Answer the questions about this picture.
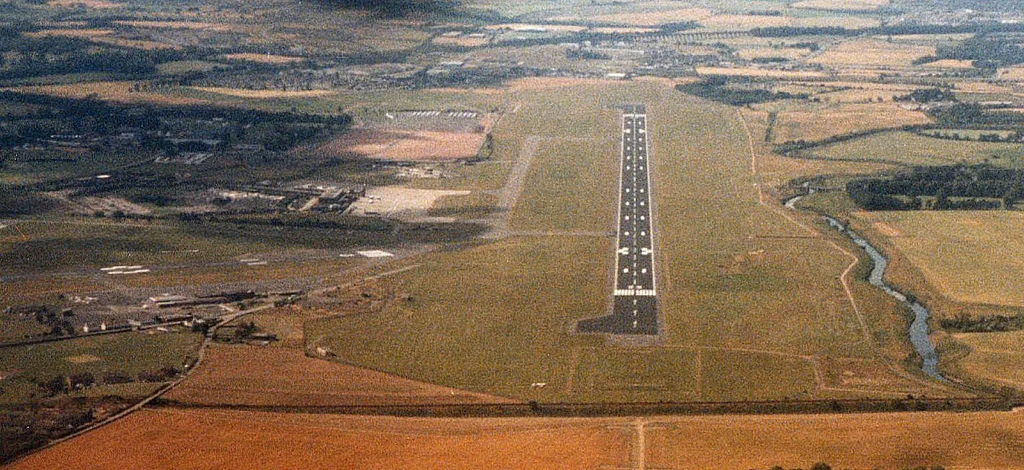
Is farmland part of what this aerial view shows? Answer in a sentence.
Yes, farmland can be seen from above here.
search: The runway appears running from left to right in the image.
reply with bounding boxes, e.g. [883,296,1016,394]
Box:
[0,230,515,277]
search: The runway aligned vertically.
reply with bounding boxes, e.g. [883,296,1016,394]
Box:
[612,105,658,333]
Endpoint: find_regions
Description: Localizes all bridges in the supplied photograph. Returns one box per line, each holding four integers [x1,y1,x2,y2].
[631,29,753,42]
